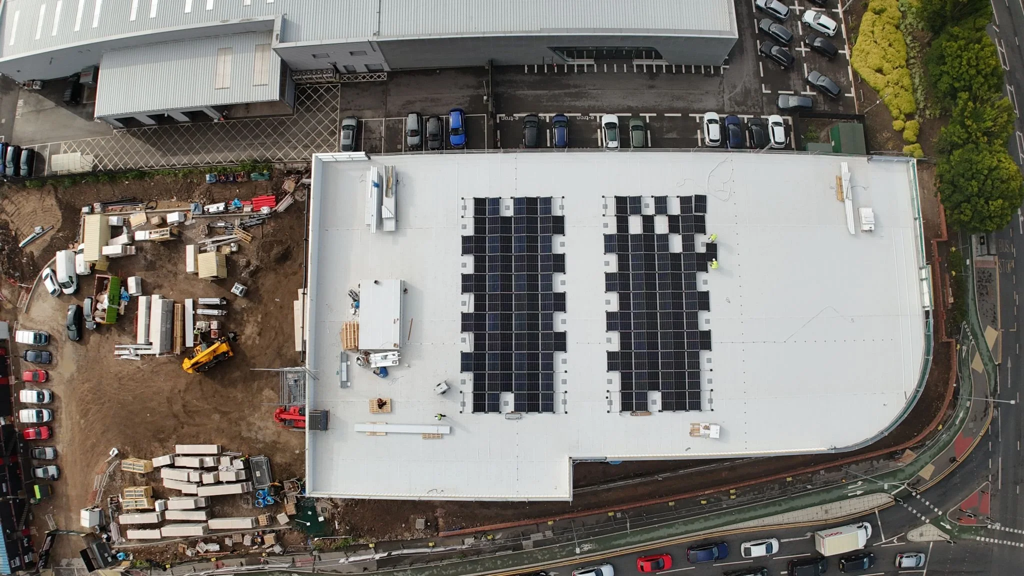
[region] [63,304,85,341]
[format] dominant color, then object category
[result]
gray car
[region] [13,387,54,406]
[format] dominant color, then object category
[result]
white vehicle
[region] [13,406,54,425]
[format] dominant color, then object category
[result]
white vehicle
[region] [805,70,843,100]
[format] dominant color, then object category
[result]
gray car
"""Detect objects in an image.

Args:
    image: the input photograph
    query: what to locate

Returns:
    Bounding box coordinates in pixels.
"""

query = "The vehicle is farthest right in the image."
[893,551,924,569]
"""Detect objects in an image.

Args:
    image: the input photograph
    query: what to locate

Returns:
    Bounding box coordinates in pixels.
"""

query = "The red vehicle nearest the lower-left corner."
[23,425,54,441]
